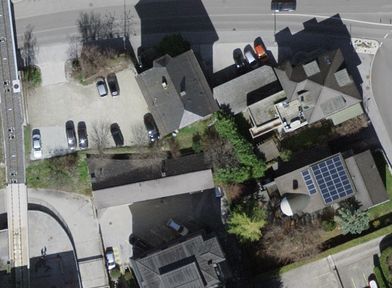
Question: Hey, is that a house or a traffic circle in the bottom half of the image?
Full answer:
There is a house in the bottom half of the image.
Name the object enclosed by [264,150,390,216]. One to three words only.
house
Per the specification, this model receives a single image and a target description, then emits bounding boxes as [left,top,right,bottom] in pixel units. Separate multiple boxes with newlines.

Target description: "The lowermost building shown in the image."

[129,234,226,288]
